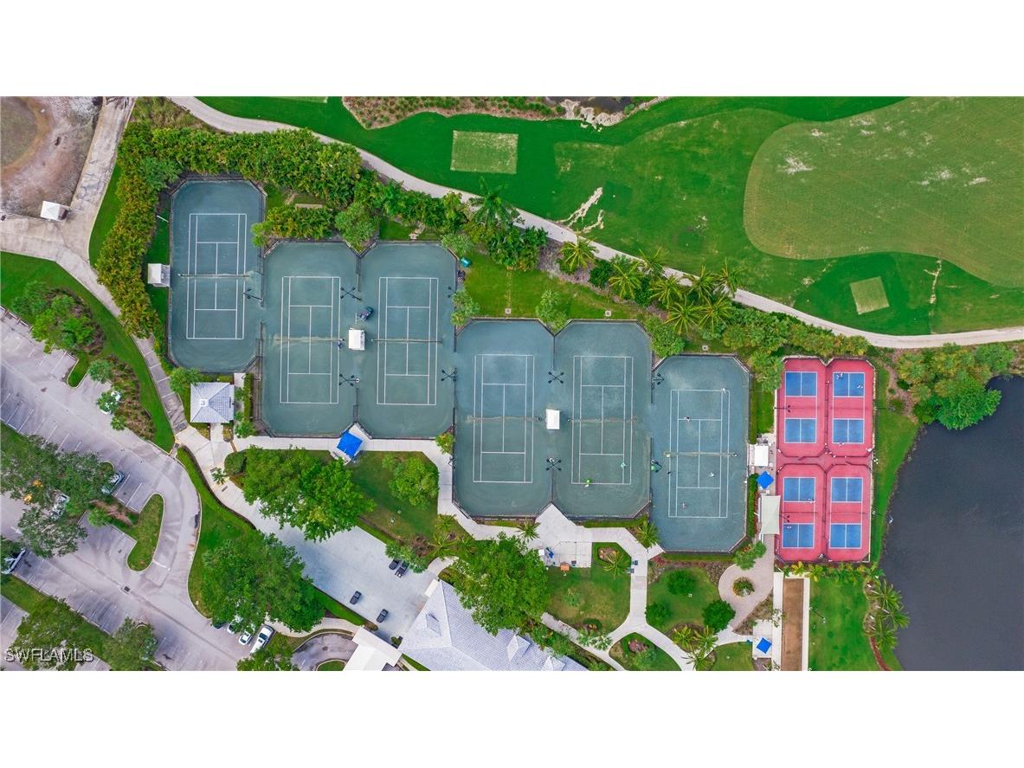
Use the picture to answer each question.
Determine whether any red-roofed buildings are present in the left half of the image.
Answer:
No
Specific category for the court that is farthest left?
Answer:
tennis court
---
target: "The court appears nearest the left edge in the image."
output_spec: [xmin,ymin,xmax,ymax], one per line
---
[170,180,265,372]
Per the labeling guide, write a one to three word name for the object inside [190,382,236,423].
building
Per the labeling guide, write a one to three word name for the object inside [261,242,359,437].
tennis court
